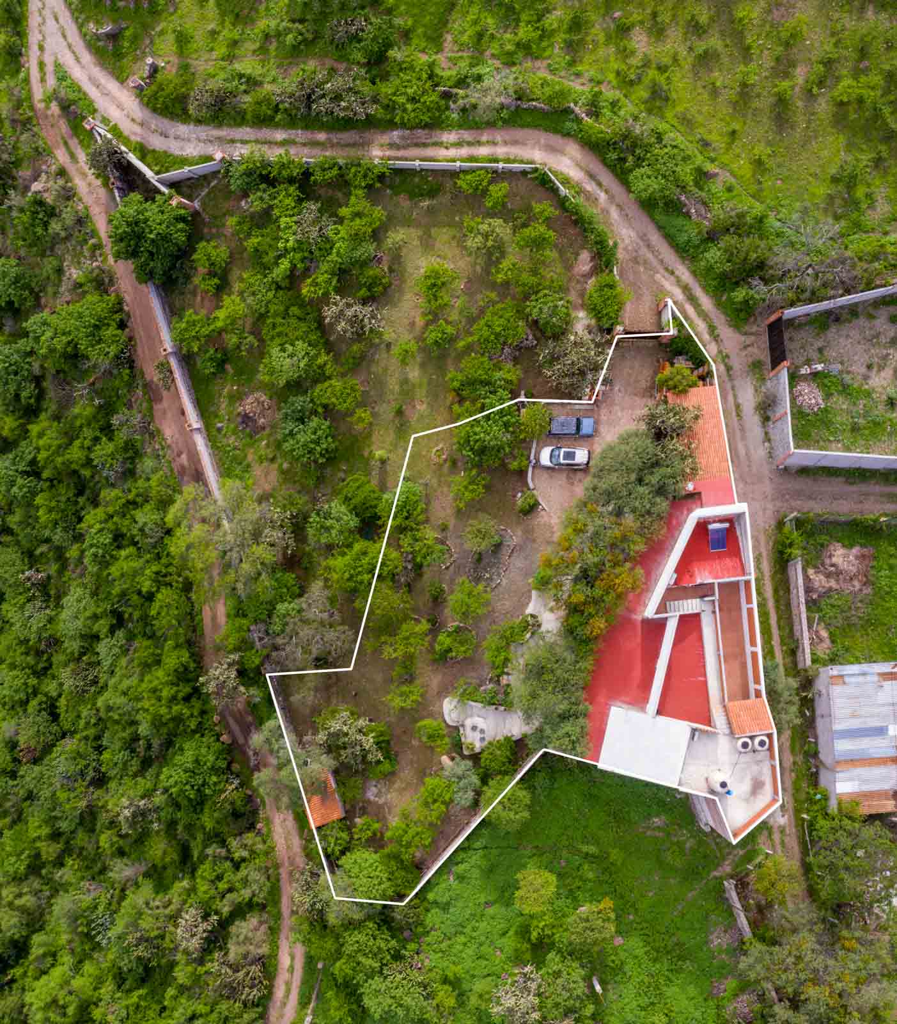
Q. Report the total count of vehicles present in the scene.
2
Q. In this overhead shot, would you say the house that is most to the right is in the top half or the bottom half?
bottom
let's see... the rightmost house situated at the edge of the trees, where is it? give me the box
[818,662,897,814]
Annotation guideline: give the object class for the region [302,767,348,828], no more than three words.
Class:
shed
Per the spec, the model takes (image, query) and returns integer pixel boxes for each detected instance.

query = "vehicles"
[539,444,590,469]
[548,414,593,439]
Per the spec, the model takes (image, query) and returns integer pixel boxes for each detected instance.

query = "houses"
[818,662,897,814]
[582,497,782,842]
